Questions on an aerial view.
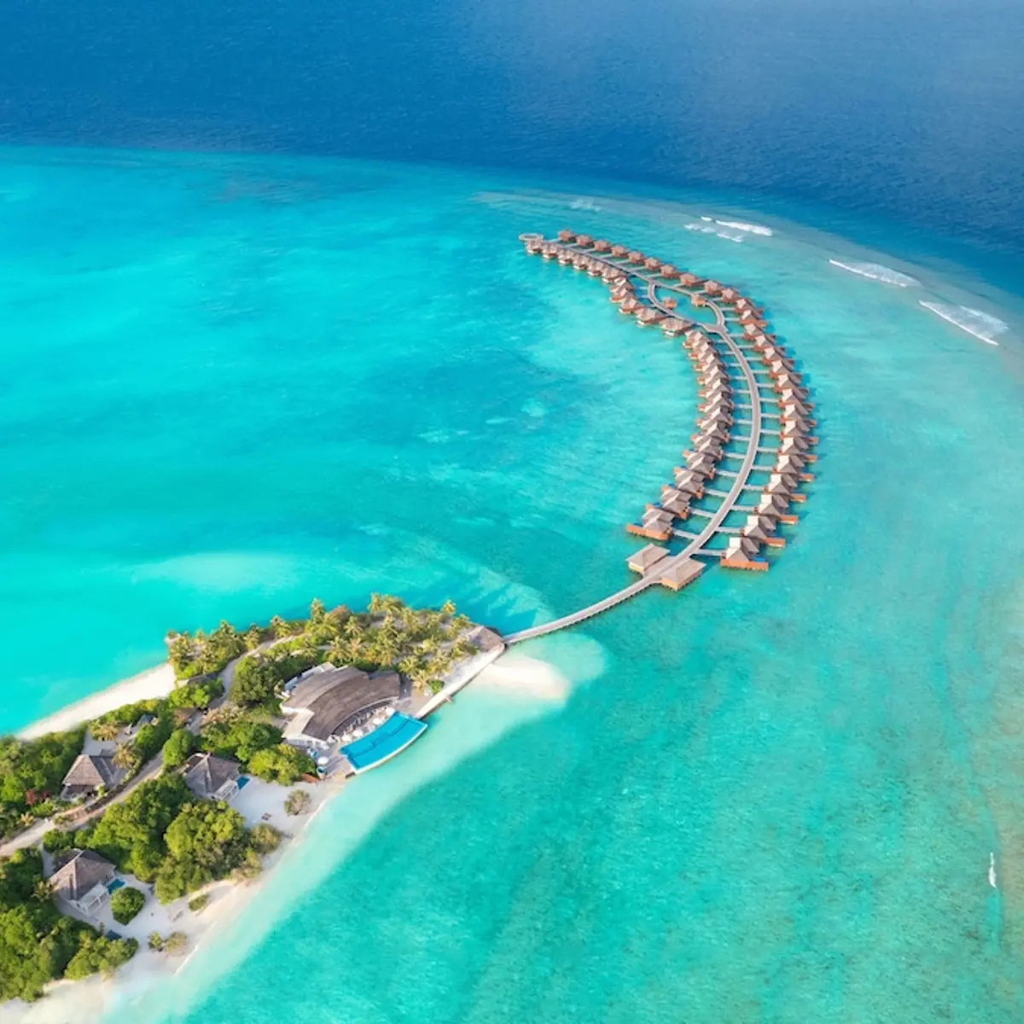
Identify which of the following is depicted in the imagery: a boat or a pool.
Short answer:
pool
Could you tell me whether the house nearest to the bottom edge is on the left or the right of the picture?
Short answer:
left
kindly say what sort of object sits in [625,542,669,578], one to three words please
building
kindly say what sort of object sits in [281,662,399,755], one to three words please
building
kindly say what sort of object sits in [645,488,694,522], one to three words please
house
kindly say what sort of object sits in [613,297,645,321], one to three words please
house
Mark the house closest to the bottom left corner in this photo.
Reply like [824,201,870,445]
[46,848,113,914]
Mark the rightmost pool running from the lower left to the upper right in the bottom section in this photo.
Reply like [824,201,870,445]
[339,710,428,777]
